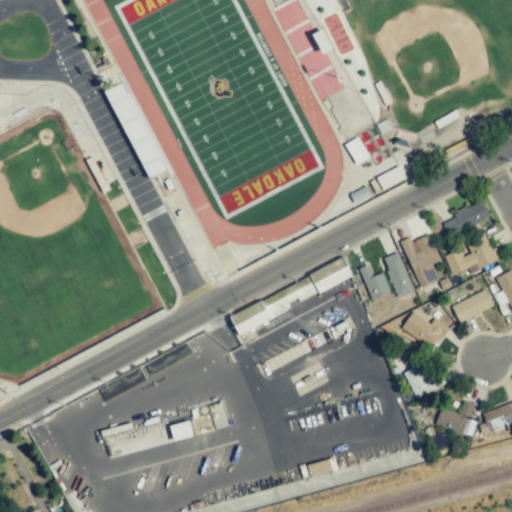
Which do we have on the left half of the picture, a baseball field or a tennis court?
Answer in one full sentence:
The feature located on the left half of the picture is a baseball field.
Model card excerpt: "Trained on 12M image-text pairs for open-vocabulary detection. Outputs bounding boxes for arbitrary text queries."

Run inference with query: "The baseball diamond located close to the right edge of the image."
[346,0,512,133]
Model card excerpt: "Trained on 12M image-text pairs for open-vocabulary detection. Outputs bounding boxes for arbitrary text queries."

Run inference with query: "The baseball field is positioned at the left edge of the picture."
[0,107,162,384]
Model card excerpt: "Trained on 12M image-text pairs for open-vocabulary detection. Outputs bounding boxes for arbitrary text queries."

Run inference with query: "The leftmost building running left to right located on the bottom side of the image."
[101,421,174,458]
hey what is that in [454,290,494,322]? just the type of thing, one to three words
house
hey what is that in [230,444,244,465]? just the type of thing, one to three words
vehicle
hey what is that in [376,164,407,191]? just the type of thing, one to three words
shed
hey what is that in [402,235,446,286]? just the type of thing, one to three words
house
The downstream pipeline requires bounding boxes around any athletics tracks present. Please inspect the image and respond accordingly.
[86,0,344,248]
